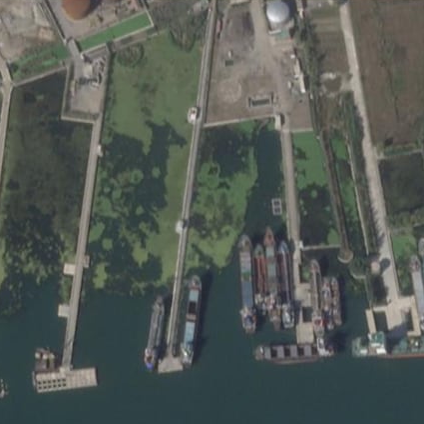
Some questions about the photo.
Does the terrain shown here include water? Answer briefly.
Yes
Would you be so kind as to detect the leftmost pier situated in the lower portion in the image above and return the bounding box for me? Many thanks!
[36,120,103,392]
